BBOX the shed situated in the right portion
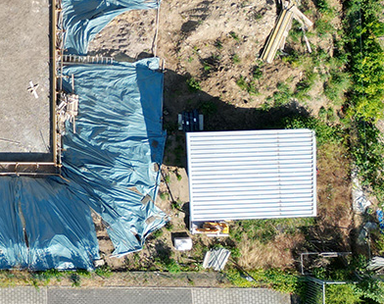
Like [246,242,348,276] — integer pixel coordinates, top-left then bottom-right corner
[163,127,320,224]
